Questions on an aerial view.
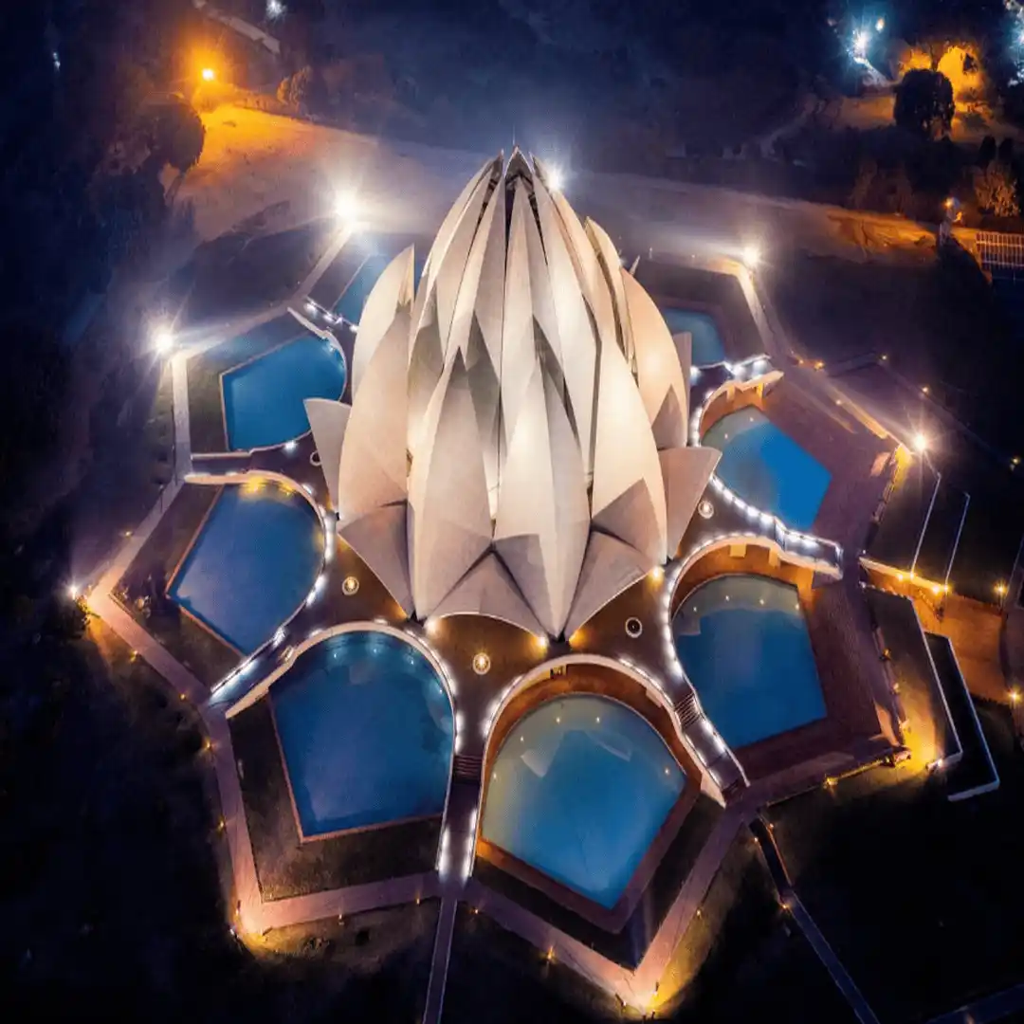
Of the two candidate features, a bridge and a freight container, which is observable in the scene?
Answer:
bridge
